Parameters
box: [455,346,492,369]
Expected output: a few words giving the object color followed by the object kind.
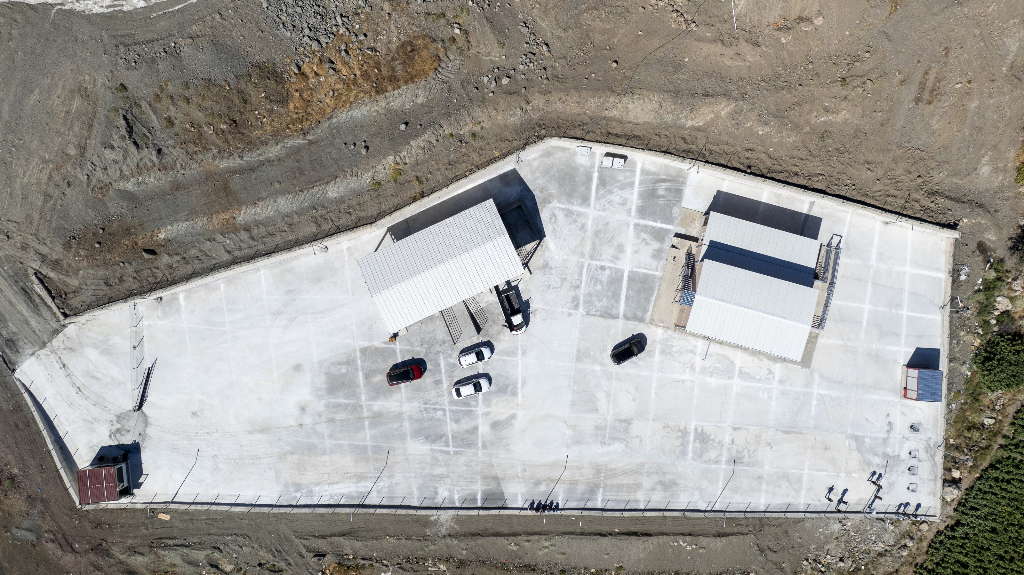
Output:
white car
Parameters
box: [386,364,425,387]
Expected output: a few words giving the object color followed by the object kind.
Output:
black car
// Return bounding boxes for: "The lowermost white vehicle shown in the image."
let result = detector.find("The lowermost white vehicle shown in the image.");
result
[450,376,490,400]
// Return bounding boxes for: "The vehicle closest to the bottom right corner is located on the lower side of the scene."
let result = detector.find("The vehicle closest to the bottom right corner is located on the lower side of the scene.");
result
[608,338,647,367]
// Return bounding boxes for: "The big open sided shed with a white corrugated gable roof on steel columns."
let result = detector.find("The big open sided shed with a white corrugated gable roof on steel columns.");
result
[358,198,524,334]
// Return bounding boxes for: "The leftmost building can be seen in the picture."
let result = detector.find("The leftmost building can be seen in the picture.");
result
[76,457,137,505]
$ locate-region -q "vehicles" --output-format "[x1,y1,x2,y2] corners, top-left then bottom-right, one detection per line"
[497,291,527,337]
[608,338,647,367]
[386,364,425,387]
[450,376,490,400]
[455,346,492,369]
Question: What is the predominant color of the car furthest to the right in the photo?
black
